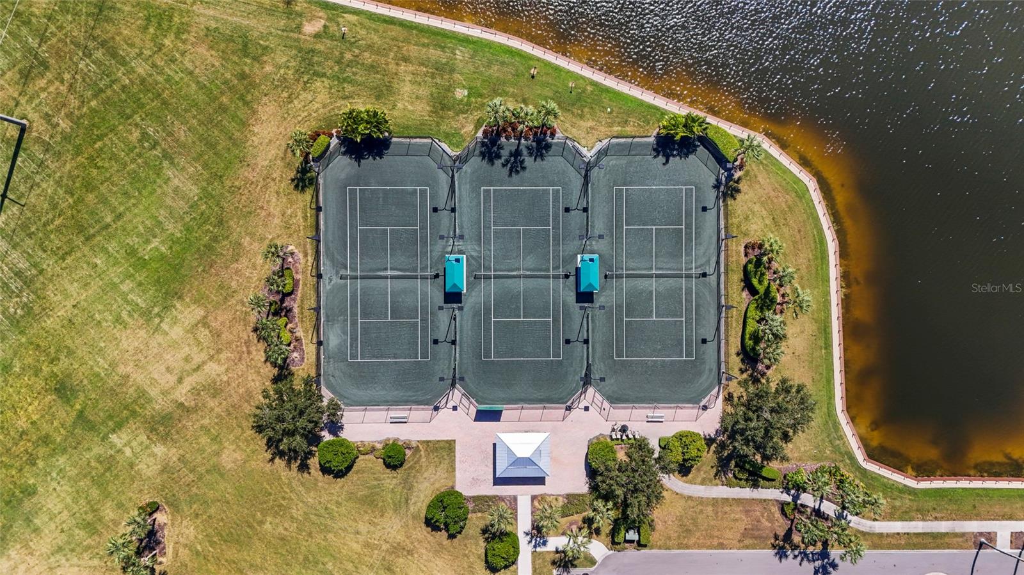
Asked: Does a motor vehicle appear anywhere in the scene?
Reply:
No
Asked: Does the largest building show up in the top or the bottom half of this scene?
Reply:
bottom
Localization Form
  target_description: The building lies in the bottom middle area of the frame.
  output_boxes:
[496,432,550,477]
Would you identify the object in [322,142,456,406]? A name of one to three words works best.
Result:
tennis court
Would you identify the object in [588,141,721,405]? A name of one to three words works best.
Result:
tennis court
